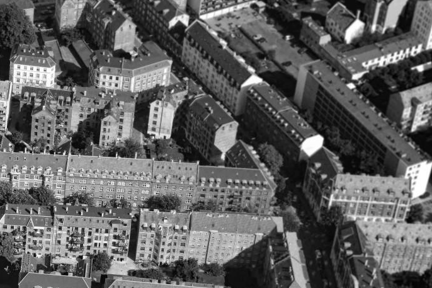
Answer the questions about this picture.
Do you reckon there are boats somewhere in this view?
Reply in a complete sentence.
No, I can't see a single boat in this photo.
